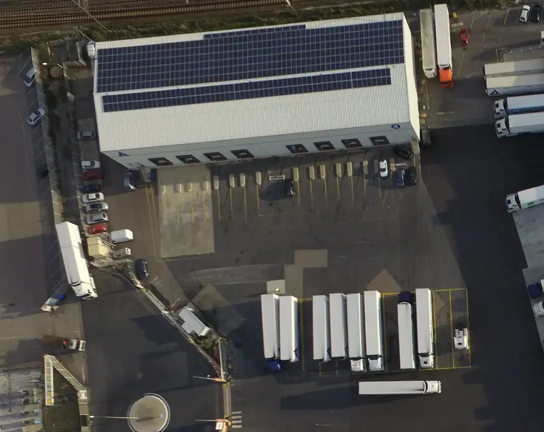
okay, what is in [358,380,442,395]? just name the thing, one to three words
vehicle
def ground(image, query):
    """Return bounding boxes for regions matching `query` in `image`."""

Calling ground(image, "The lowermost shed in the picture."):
[179,307,215,338]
